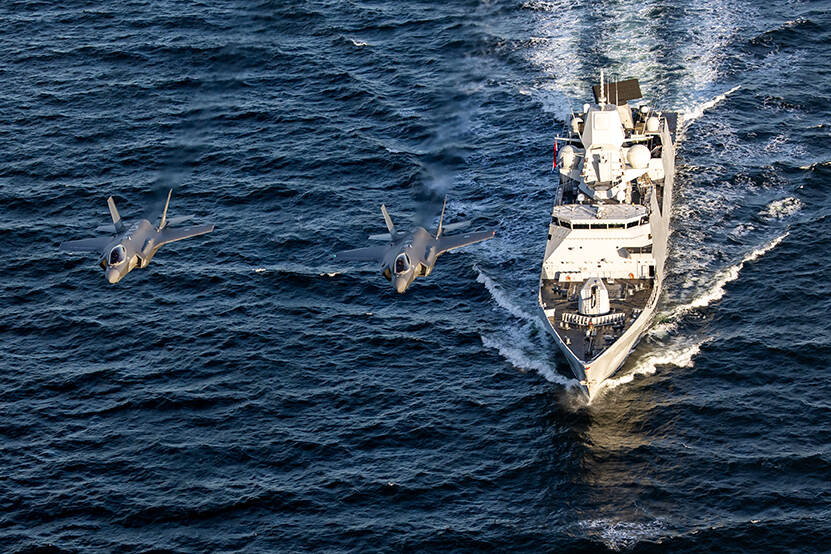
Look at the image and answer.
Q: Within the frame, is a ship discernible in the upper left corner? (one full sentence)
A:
No, the scene shows no ship in the upper left corner.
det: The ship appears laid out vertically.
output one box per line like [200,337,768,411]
[540,73,689,398]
